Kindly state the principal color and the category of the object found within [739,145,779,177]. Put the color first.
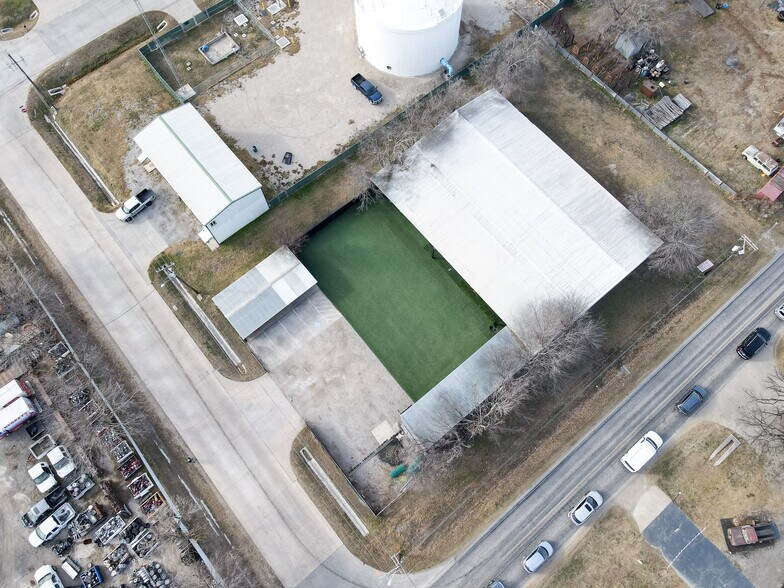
white car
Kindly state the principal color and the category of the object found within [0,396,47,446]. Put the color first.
white trailer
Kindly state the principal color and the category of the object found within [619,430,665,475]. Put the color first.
white vehicle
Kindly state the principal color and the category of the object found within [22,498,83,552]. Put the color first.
white truck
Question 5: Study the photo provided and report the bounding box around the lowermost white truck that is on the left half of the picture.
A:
[32,564,65,588]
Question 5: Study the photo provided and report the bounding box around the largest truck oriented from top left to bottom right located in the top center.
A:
[347,72,385,107]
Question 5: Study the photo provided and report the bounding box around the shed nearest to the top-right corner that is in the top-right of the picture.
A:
[611,28,651,65]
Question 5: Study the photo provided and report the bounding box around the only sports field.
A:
[304,191,510,403]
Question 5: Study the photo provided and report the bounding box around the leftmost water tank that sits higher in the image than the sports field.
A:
[356,0,462,78]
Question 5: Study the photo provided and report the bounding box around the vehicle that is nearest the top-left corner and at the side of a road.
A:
[113,185,159,223]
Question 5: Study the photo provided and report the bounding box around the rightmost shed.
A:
[748,172,784,206]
